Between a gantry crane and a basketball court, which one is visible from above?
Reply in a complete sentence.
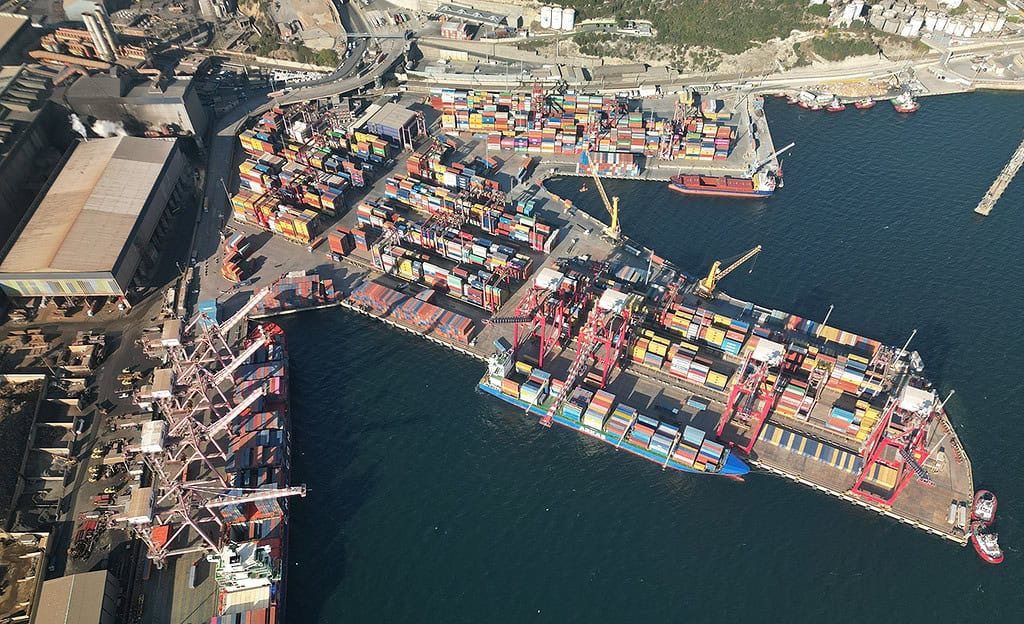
The image shows a gantry crane.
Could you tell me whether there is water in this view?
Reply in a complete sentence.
Yes, some water is visible.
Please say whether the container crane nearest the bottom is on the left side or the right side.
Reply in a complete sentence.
The container crane nearest the bottom appears in the left half of the scene.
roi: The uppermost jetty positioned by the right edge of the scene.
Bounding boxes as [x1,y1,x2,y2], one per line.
[974,130,1024,217]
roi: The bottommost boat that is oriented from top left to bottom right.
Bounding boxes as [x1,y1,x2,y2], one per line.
[966,516,1012,561]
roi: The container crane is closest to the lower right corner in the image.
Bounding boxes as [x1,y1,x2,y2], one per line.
[853,380,945,505]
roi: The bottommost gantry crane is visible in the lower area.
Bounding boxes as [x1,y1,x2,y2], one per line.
[115,478,307,571]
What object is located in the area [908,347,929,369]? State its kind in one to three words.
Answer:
boat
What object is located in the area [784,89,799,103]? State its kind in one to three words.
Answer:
boat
